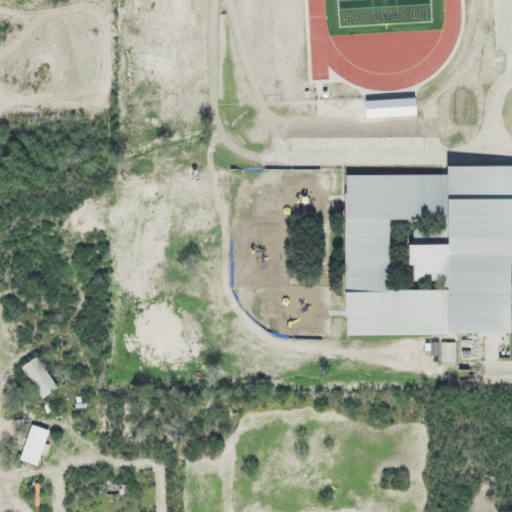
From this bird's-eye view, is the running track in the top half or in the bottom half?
top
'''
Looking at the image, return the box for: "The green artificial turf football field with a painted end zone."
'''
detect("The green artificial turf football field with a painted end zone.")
[326,0,444,36]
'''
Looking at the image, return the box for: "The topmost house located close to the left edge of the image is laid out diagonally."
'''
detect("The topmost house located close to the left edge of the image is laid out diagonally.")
[21,357,54,397]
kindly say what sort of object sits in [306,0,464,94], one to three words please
running track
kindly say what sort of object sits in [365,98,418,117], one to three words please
building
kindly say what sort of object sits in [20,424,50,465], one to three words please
house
